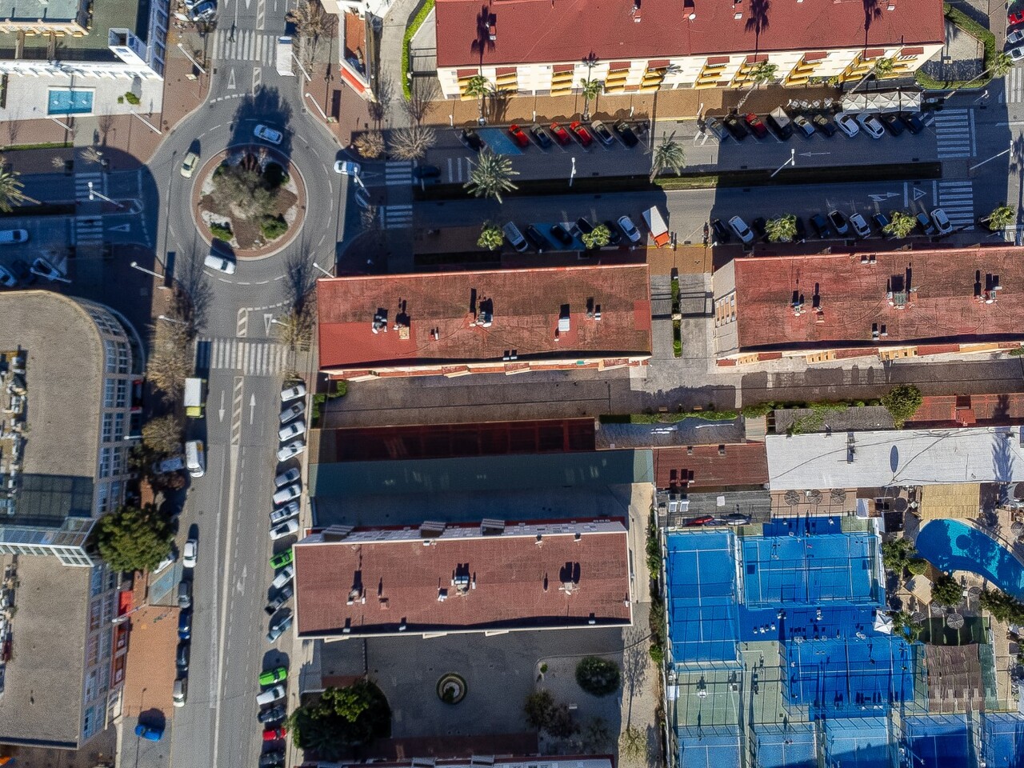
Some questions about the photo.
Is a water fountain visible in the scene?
Yes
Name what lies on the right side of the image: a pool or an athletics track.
pool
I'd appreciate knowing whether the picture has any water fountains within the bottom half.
Yes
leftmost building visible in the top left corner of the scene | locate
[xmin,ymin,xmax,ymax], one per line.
[0,0,166,85]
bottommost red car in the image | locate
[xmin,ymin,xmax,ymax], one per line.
[262,724,289,740]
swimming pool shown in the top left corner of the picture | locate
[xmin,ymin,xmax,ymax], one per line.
[48,89,91,114]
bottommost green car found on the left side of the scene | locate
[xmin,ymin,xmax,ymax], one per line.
[259,667,287,685]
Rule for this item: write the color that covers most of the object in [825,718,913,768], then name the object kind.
blue sports court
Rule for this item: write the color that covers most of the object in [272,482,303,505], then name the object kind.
white car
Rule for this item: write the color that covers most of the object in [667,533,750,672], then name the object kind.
blue sports court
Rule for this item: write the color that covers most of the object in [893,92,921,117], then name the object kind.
white tent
